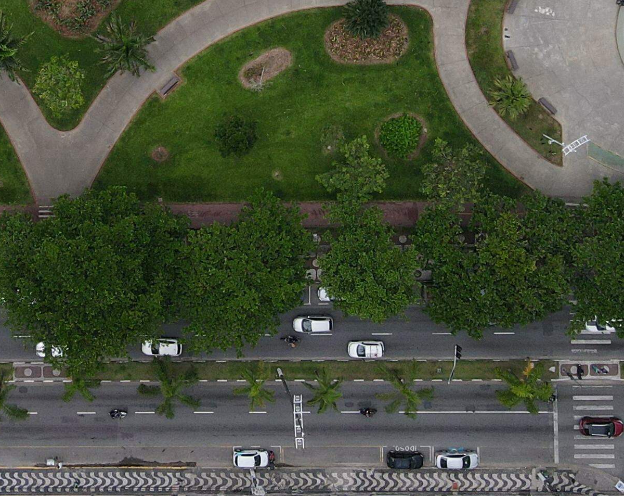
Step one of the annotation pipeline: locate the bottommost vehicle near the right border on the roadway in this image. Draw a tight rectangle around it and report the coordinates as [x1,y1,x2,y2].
[582,416,624,439]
